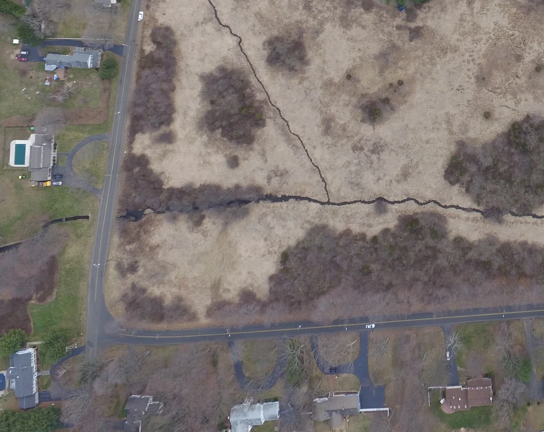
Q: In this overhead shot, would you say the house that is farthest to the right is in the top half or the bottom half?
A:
bottom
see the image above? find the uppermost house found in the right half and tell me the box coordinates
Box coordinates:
[446,374,492,411]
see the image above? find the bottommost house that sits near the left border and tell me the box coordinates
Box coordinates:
[5,348,40,410]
